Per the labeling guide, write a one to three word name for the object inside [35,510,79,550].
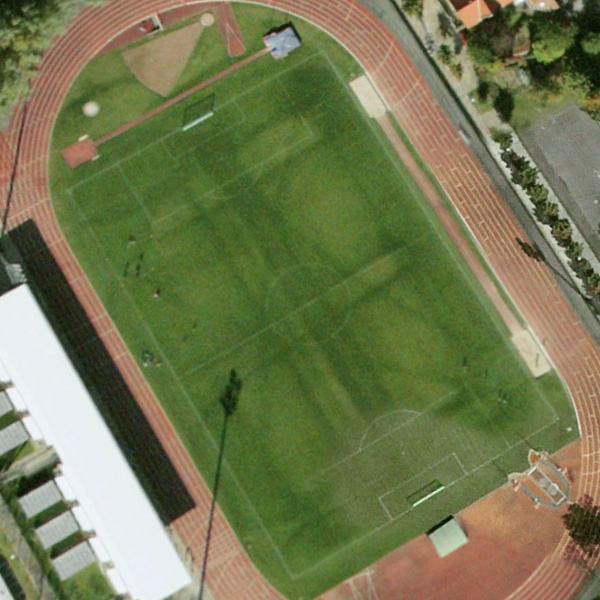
shed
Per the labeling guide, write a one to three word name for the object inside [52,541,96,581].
shed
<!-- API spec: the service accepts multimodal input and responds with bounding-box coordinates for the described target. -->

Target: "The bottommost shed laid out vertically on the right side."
[513,25,530,57]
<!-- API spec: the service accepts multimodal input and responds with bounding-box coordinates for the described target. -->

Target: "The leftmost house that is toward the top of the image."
[448,0,493,28]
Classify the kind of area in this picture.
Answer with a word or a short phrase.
sports ground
